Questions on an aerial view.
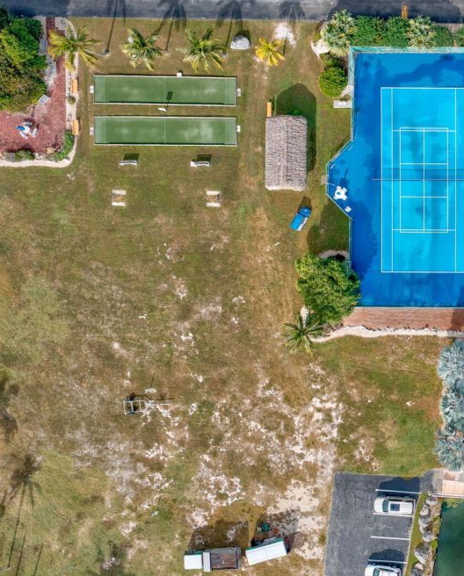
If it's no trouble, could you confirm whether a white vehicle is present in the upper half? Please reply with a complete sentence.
No, I see no white vehicle in the upper half.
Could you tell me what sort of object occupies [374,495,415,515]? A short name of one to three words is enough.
car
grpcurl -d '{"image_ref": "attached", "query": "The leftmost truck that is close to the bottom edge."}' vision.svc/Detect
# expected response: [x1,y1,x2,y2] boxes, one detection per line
[183,550,239,575]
